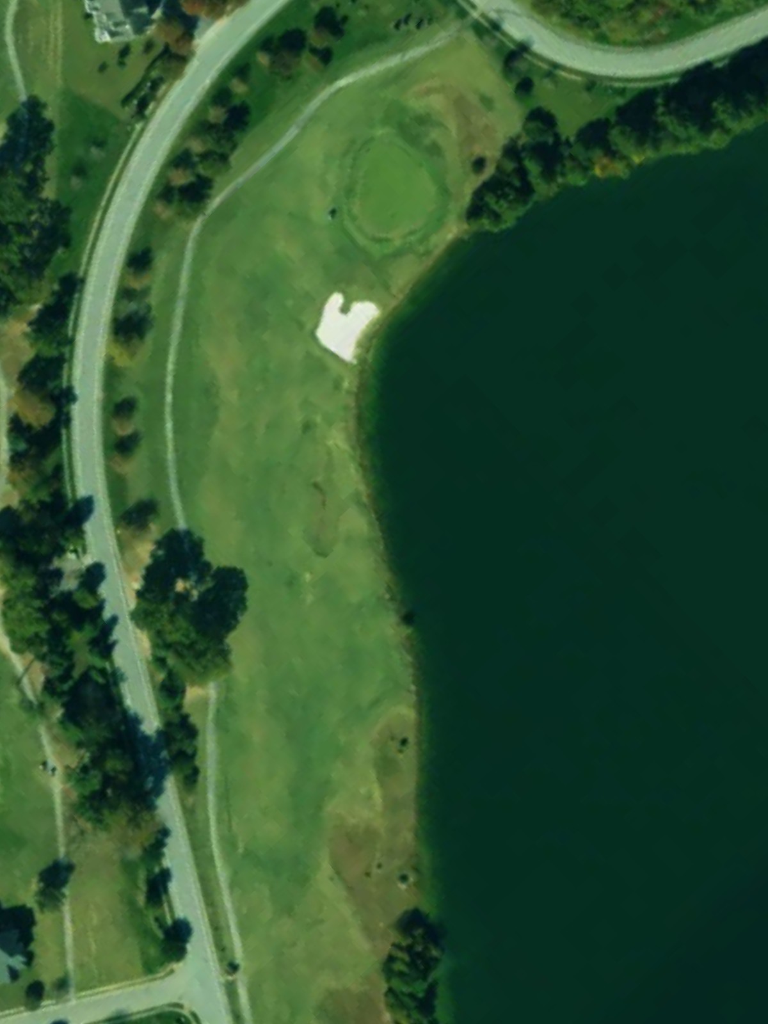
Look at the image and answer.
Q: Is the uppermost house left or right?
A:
left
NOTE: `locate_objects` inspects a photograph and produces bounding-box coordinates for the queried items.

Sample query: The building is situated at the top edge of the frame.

[86,0,150,42]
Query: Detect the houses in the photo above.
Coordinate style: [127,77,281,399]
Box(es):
[86,0,150,42]
[0,946,26,986]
